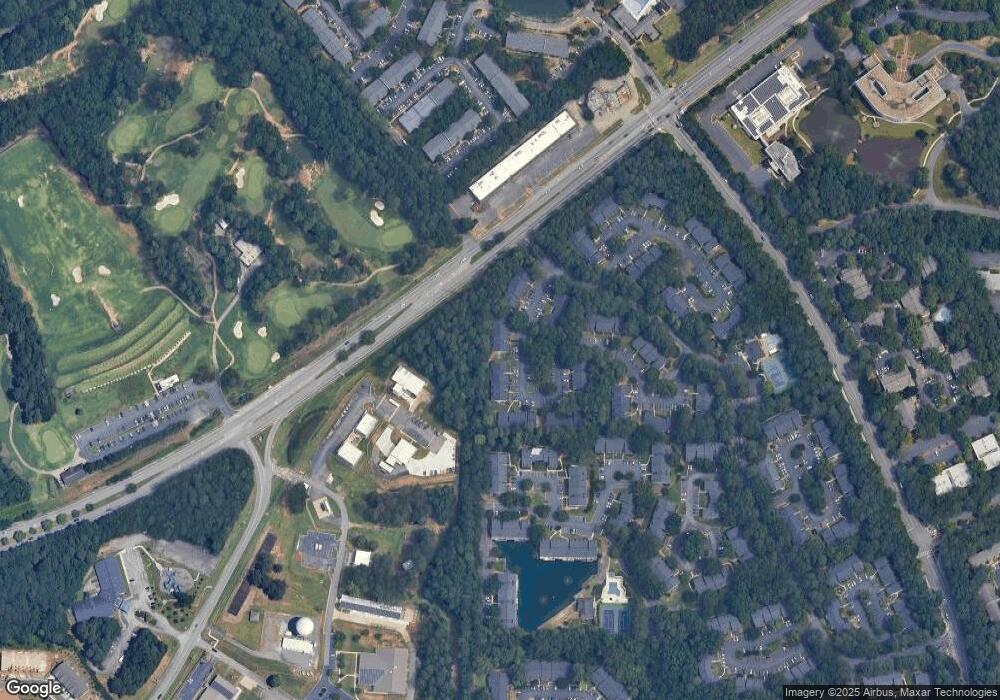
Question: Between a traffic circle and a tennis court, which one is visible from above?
tennis court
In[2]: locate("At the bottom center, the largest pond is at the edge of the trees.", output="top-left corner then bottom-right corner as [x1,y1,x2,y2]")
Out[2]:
[497,539,598,636]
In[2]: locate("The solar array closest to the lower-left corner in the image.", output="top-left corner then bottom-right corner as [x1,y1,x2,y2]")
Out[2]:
[341,602,400,620]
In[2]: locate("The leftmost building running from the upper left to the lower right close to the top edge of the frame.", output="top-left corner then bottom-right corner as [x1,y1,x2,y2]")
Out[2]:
[300,6,354,67]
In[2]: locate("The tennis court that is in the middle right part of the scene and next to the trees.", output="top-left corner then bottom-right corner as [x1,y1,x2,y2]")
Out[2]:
[762,356,789,391]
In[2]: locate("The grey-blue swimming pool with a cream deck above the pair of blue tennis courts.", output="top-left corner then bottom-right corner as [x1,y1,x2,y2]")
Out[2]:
[602,573,628,602]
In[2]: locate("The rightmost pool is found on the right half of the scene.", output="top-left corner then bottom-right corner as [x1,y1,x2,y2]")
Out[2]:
[936,307,951,321]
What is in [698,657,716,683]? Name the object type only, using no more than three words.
building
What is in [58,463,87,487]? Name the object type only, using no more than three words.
shed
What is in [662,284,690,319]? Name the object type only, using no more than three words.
building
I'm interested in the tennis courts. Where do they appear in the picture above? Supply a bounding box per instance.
[762,356,789,391]
[602,607,616,634]
[617,607,631,634]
